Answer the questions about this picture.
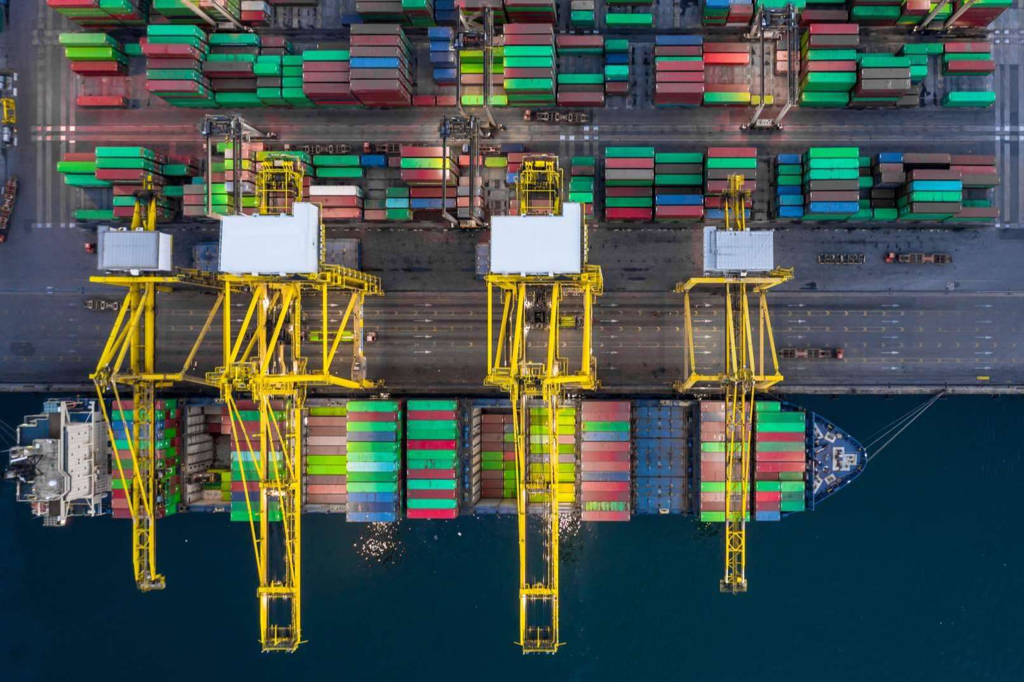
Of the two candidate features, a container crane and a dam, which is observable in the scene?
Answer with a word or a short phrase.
container crane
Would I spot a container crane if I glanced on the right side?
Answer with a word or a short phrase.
Yes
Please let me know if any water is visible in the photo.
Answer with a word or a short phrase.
Yes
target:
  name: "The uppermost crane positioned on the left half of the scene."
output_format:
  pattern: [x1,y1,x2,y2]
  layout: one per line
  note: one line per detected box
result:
[181,0,253,28]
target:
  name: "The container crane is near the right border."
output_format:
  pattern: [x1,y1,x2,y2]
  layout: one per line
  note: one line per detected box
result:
[910,0,976,28]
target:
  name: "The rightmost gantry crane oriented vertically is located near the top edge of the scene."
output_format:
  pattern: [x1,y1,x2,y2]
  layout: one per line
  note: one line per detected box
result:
[741,6,801,130]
